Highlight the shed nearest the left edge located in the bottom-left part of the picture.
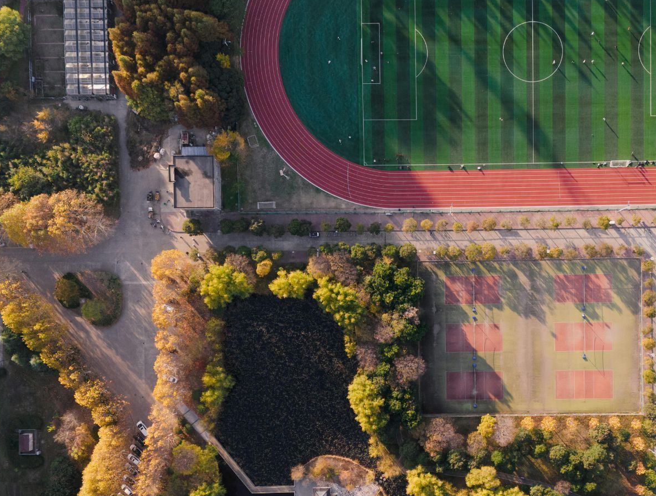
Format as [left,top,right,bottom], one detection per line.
[14,431,38,457]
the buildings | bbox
[64,0,116,98]
[14,431,38,457]
[312,484,338,496]
[167,156,221,209]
